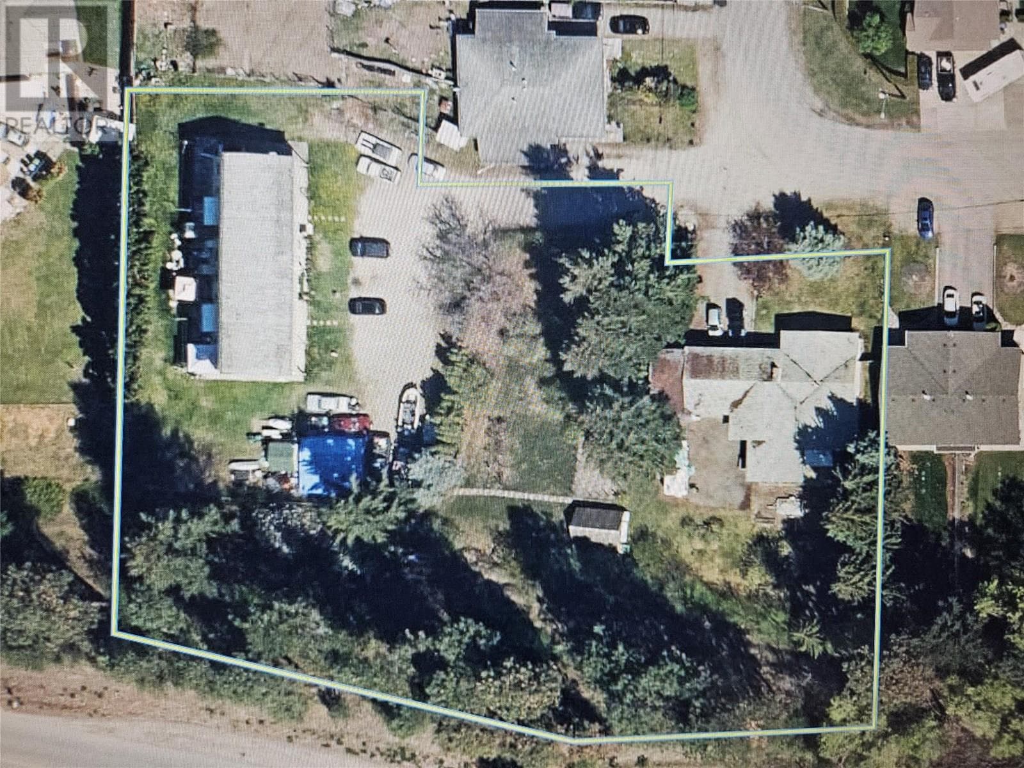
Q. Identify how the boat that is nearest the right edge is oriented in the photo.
up and down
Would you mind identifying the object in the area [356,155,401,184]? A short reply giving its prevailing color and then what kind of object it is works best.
white van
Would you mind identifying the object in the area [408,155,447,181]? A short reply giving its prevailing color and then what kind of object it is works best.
white car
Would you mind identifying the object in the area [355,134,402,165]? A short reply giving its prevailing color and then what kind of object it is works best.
white truck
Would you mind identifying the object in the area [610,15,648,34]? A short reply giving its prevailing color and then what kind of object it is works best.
black car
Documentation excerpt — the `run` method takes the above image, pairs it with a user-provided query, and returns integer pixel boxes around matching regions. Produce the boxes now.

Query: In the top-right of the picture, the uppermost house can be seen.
[905,0,999,52]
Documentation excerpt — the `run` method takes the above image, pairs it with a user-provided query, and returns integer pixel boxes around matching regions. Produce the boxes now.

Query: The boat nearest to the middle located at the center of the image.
[398,379,421,436]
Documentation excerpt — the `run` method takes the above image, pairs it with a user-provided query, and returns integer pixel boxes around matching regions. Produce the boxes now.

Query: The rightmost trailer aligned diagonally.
[959,43,1024,95]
